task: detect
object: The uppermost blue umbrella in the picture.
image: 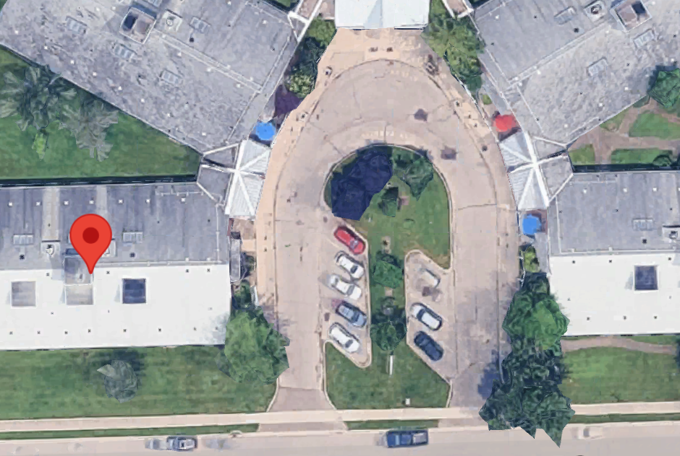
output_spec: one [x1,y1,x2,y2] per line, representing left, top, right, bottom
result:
[254,120,275,142]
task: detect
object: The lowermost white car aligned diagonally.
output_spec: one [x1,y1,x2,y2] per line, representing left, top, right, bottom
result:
[325,322,362,356]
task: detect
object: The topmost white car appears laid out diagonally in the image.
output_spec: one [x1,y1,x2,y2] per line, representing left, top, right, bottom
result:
[332,251,366,283]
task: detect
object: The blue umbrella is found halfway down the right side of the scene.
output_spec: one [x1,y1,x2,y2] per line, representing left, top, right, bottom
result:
[520,213,541,235]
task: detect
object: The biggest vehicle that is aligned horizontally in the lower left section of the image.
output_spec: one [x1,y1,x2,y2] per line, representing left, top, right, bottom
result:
[165,436,198,453]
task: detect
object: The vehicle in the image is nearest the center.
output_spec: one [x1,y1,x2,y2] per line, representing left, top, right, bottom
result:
[333,223,368,256]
